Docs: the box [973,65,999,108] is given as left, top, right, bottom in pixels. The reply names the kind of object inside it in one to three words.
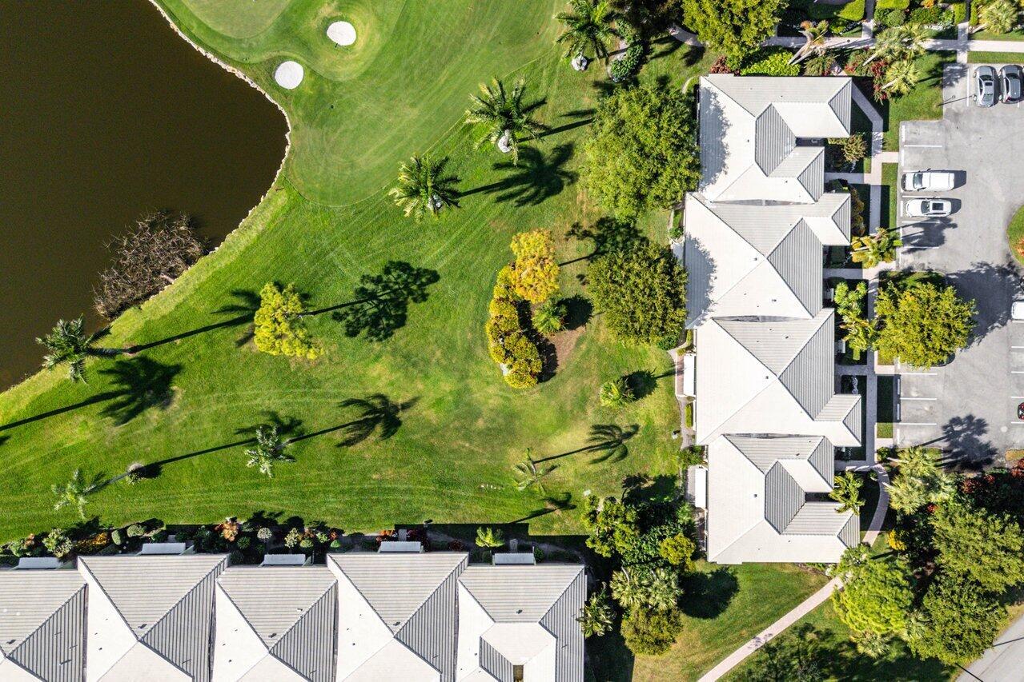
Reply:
car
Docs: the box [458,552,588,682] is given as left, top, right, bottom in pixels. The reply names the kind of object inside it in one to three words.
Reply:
house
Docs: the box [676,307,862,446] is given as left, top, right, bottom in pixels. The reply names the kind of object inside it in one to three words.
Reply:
house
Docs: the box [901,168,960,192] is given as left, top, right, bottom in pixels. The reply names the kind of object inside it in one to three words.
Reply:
vehicle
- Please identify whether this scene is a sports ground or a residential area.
residential area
